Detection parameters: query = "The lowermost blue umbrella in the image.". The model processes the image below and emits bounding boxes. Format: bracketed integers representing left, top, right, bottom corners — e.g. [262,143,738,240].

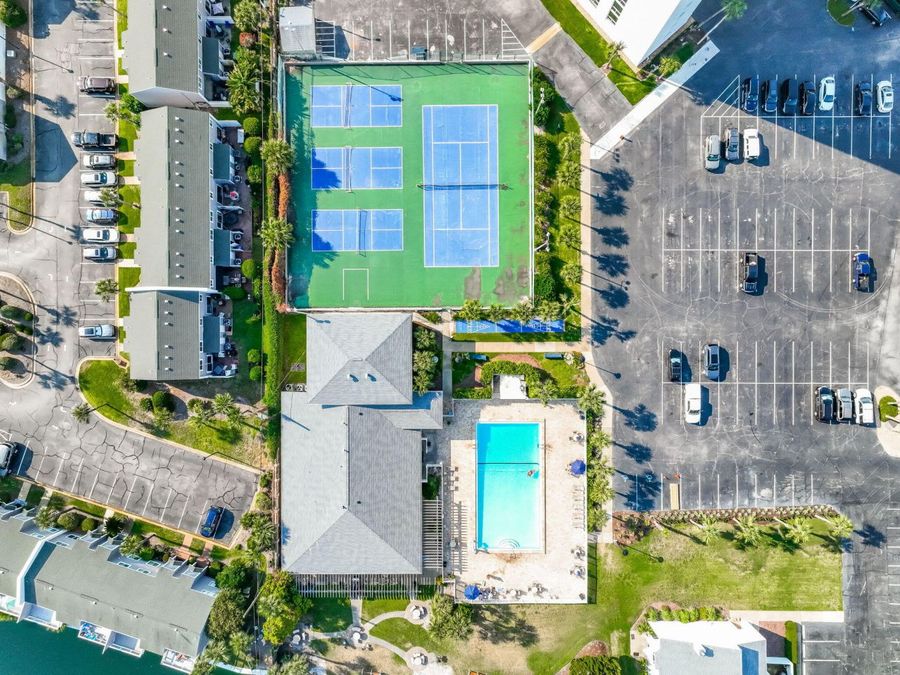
[461,582,479,599]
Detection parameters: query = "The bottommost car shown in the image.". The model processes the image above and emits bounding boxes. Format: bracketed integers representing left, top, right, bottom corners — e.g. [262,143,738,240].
[200,503,224,539]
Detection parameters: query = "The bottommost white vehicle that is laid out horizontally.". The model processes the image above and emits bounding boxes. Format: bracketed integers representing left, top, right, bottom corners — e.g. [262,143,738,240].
[78,323,117,339]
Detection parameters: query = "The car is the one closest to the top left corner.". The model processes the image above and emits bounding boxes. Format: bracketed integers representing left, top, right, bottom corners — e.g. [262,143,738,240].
[80,76,117,94]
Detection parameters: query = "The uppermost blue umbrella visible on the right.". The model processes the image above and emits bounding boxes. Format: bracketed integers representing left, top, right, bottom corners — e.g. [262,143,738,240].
[570,459,586,475]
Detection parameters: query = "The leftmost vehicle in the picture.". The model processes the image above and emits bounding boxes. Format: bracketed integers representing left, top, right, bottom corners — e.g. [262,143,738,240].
[0,440,20,476]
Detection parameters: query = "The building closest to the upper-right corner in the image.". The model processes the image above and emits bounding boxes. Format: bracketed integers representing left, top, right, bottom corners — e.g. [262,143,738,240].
[572,0,699,69]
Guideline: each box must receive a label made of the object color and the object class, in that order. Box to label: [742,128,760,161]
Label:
white car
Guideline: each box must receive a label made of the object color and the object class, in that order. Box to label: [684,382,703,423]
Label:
white vehicle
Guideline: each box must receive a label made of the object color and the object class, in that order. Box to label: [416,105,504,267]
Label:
blue tennis court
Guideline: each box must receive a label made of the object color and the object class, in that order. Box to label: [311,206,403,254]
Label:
blue sports court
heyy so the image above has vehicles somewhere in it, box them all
[875,81,894,114]
[703,345,721,379]
[200,503,224,539]
[85,207,120,224]
[852,252,873,292]
[854,388,875,424]
[761,79,780,114]
[780,78,800,116]
[799,81,817,117]
[78,323,117,339]
[741,76,760,113]
[82,226,121,243]
[835,388,855,422]
[84,191,120,205]
[80,76,117,94]
[740,253,758,294]
[742,128,760,161]
[0,440,20,476]
[83,244,119,261]
[722,127,741,162]
[814,386,833,422]
[83,152,116,169]
[817,76,836,112]
[854,80,874,117]
[684,382,703,423]
[73,131,119,149]
[703,134,722,171]
[667,350,683,382]
[81,171,118,187]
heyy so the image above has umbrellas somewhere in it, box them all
[461,582,479,599]
[570,459,586,475]
[230,190,243,200]
[209,0,225,15]
[219,209,238,229]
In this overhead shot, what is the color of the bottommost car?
blue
